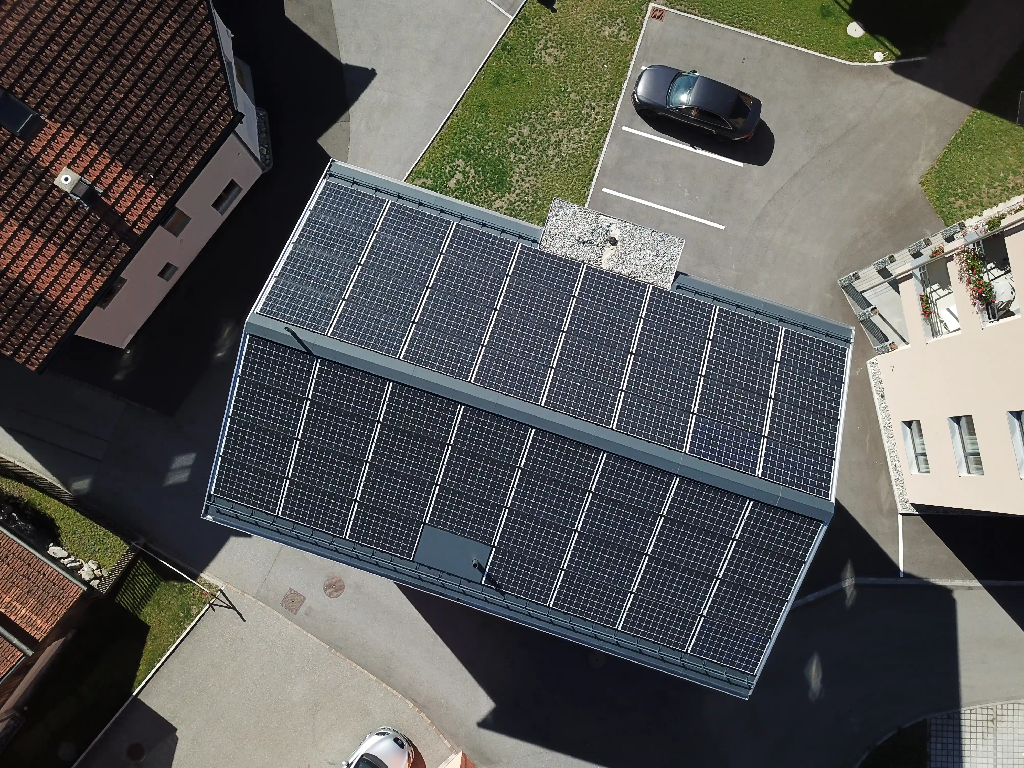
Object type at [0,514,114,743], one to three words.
barn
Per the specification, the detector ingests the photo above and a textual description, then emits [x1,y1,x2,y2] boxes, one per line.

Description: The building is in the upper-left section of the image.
[0,0,263,375]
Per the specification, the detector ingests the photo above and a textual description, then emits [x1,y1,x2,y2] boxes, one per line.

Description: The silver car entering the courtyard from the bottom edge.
[338,721,412,768]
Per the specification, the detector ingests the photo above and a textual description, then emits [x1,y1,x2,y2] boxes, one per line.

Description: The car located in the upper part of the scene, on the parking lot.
[631,64,764,145]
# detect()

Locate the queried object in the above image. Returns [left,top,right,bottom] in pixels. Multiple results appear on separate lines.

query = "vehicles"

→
[631,64,764,145]
[338,721,412,768]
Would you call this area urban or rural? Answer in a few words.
urban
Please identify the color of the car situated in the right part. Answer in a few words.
black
